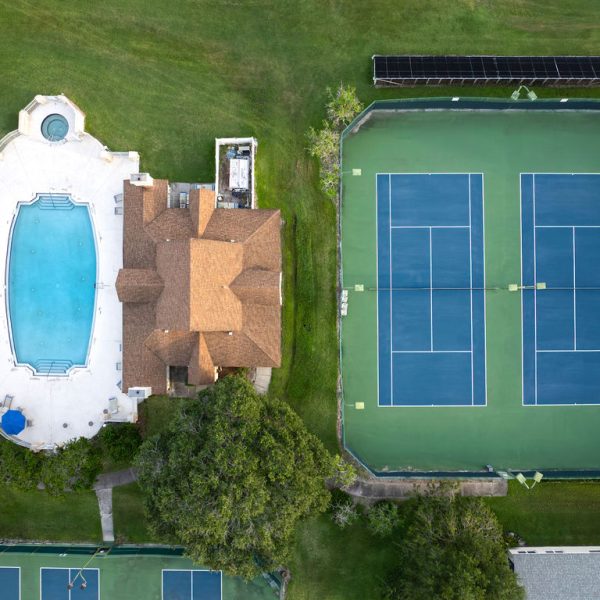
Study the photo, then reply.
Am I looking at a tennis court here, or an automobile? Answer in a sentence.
The one in the frame is a tennis court.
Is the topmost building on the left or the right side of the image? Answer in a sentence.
The topmost building is on the left side of the image.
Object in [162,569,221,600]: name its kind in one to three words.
sports court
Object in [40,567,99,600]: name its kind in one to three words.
sports court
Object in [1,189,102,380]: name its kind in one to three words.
swimming pool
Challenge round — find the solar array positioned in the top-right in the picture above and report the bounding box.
[371,54,600,87]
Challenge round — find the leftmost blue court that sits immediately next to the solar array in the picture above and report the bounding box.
[377,173,486,407]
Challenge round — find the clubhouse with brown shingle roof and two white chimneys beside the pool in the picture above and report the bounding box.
[115,171,282,401]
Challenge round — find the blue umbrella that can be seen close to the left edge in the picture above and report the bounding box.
[1,408,28,434]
